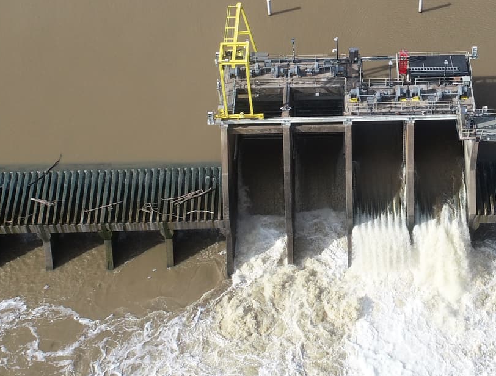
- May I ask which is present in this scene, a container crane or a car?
container crane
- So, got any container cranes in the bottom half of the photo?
No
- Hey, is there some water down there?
Yes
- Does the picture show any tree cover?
No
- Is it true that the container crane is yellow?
Yes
